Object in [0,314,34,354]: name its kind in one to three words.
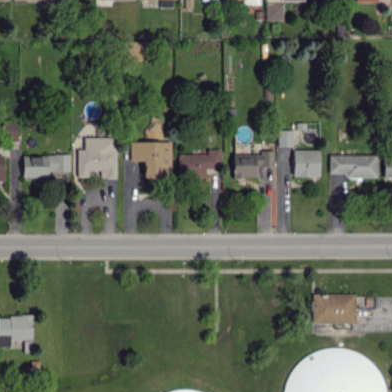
house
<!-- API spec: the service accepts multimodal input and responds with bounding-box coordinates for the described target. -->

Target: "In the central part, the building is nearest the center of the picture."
[178,150,222,179]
